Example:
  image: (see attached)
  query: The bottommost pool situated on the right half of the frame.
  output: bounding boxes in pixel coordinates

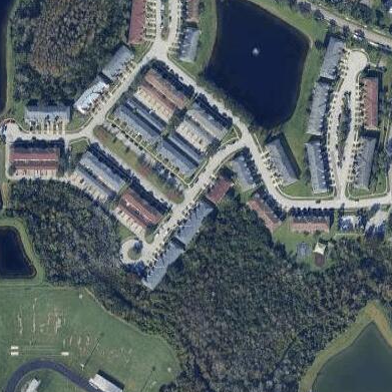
[341,216,356,230]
